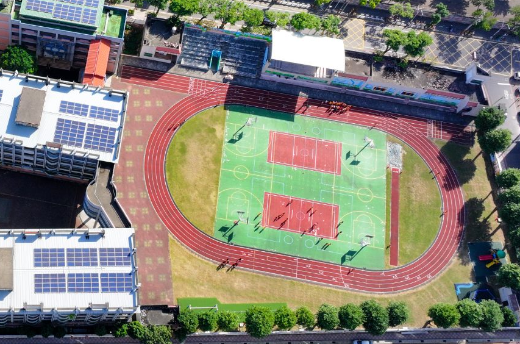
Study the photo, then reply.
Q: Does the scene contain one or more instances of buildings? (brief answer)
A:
Yes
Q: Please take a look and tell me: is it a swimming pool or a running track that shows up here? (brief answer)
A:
running track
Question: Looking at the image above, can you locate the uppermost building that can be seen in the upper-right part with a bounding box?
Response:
[459,64,490,89]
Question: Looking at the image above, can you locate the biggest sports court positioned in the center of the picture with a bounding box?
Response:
[213,106,387,267]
